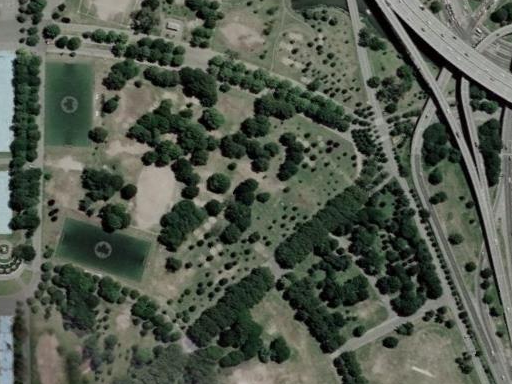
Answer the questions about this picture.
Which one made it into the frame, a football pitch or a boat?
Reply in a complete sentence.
There is a football pitch in the scene.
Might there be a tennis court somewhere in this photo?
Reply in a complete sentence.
No, I find no tennis court anywhere in the image.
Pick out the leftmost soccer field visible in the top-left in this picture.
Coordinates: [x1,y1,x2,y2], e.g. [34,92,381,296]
[43,61,92,147]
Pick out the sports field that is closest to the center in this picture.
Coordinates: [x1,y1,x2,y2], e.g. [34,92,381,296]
[134,167,177,229]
